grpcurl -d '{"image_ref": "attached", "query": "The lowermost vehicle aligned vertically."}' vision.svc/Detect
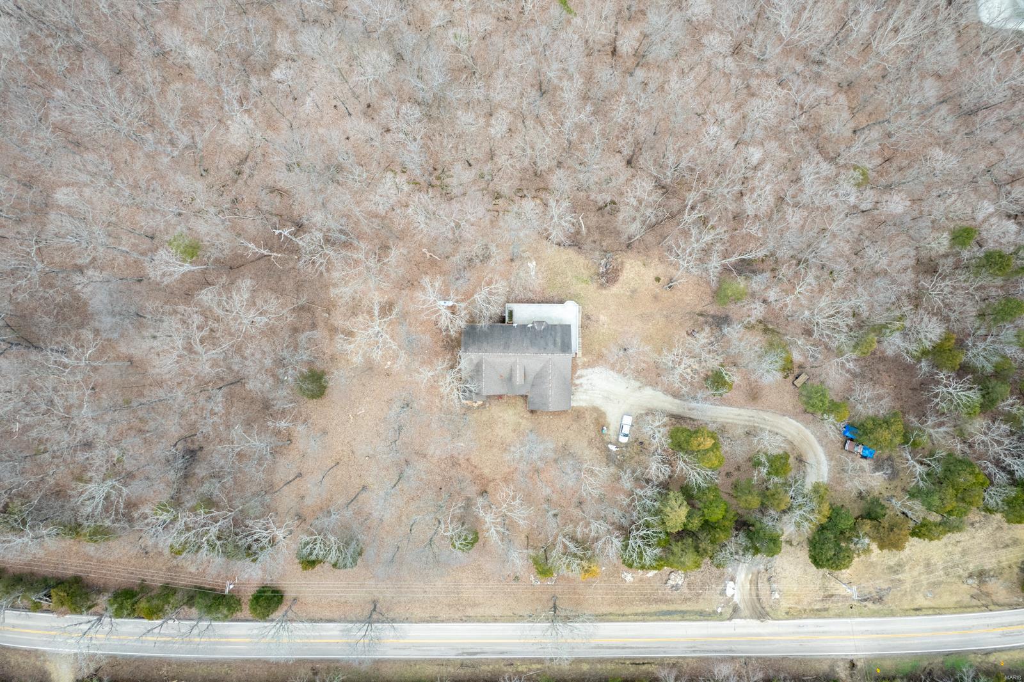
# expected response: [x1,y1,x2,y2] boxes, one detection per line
[617,414,632,442]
